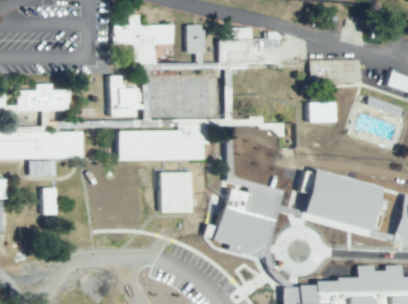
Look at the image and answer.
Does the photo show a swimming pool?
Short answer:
Yes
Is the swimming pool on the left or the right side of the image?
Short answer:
right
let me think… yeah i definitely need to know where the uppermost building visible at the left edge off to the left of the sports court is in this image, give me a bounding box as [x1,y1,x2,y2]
[0,83,84,160]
